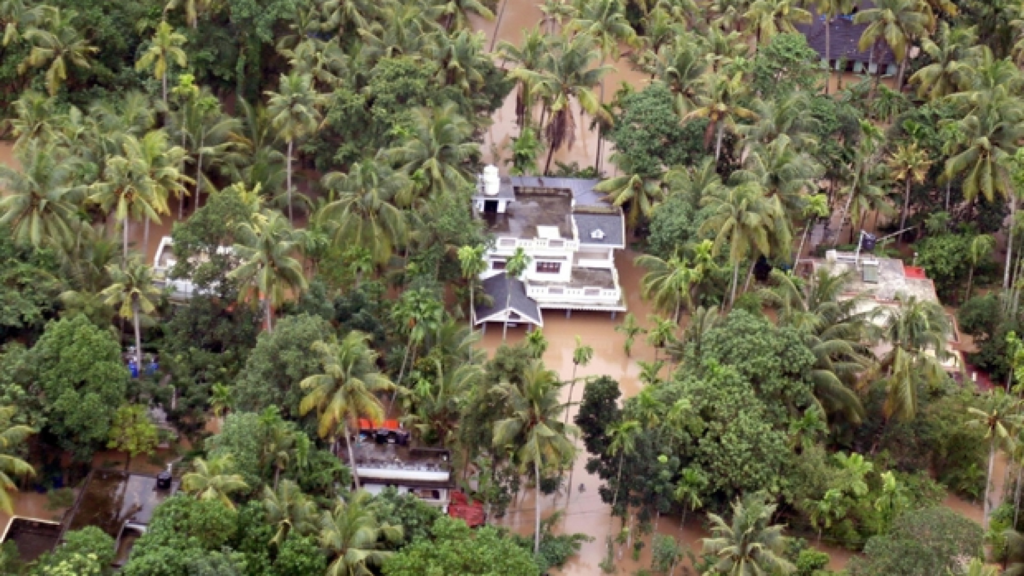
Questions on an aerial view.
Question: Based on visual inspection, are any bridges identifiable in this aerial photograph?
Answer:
No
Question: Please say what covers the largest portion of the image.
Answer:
trees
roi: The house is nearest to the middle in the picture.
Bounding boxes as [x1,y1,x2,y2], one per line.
[471,176,628,334]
